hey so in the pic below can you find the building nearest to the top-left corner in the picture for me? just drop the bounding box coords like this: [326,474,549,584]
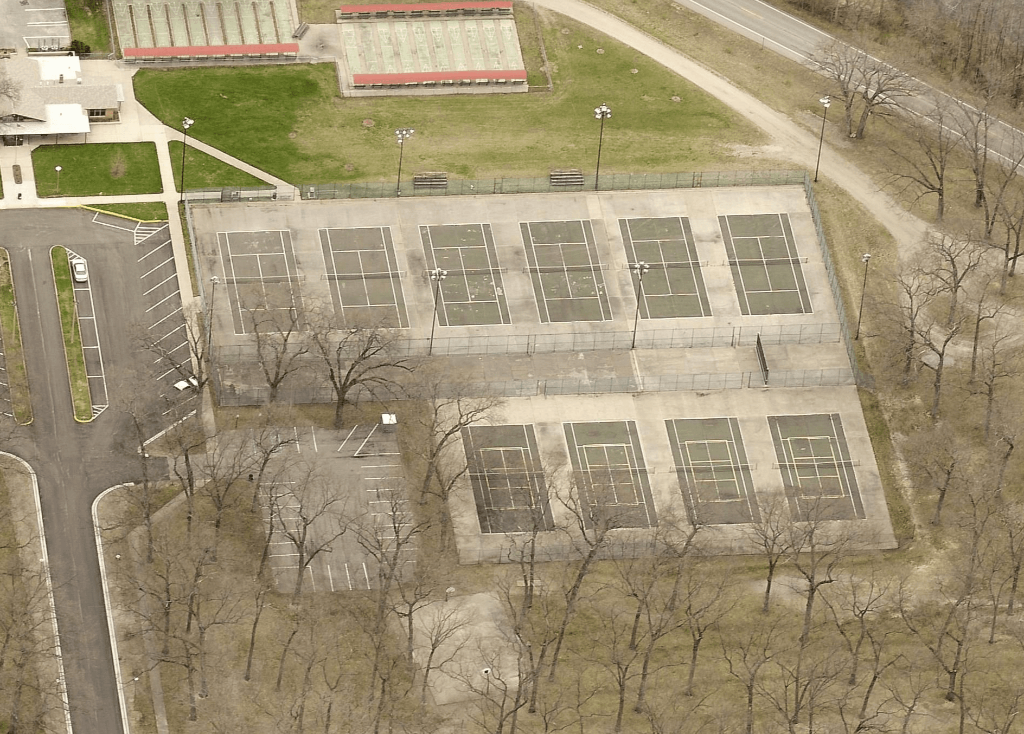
[0,43,125,148]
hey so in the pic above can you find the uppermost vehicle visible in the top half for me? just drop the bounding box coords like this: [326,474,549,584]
[72,262,87,284]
